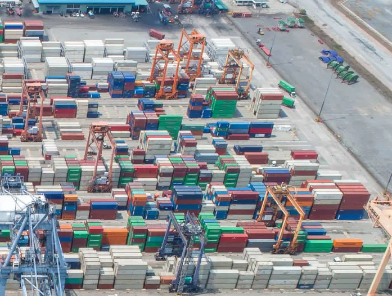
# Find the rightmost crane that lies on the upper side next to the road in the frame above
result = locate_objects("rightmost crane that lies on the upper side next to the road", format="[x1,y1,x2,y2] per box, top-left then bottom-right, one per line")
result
[220,46,260,98]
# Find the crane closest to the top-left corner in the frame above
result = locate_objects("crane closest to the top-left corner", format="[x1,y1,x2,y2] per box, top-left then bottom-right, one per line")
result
[16,84,45,141]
